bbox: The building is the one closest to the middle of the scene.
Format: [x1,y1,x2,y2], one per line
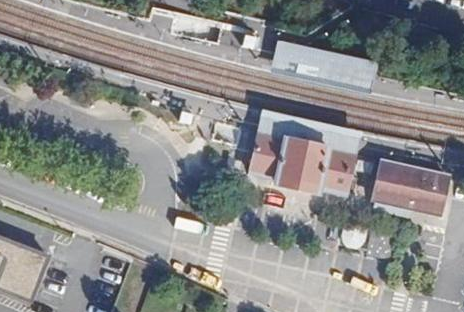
[208,118,244,148]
